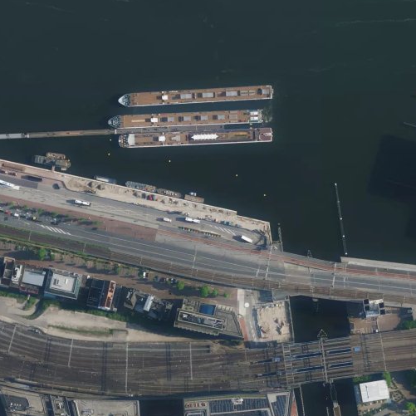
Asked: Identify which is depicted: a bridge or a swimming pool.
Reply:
bridge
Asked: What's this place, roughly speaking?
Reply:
port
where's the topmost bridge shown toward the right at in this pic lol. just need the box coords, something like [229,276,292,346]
[283,250,349,302]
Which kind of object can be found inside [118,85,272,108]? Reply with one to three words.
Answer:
ship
